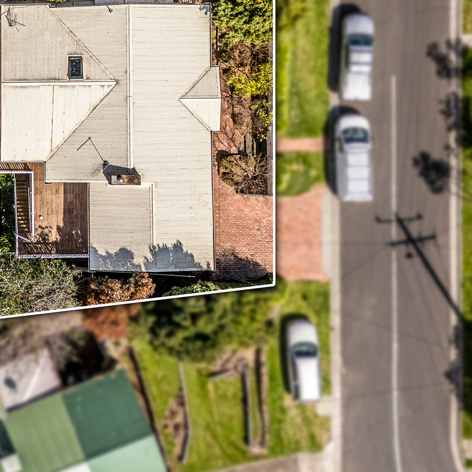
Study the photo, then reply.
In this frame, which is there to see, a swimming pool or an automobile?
automobile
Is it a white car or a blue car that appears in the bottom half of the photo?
white car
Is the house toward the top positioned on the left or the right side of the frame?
left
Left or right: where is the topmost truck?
right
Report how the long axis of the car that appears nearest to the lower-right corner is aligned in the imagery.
from top to bottom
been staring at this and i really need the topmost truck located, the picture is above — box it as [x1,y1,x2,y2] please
[342,15,382,99]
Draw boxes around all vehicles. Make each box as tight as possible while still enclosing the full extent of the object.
[338,117,381,200]
[342,15,382,99]
[288,320,328,405]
